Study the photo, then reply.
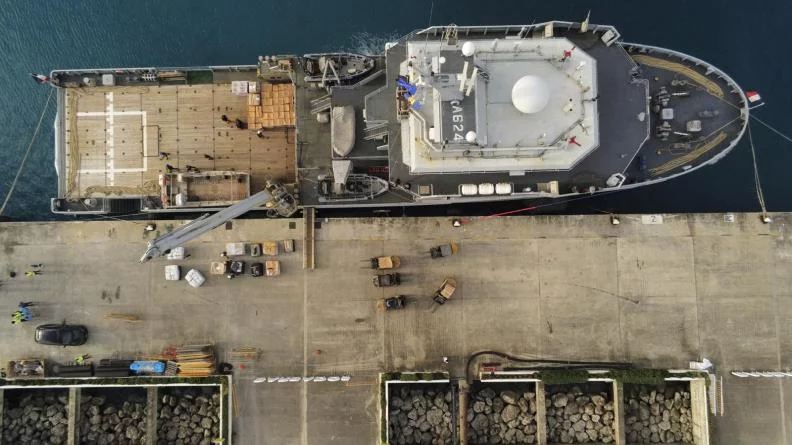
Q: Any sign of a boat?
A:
Yes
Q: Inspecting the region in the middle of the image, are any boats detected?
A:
Yes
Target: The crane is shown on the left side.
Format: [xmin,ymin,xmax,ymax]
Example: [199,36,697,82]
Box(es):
[138,167,299,262]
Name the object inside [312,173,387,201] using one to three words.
boat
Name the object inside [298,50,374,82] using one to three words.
boat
